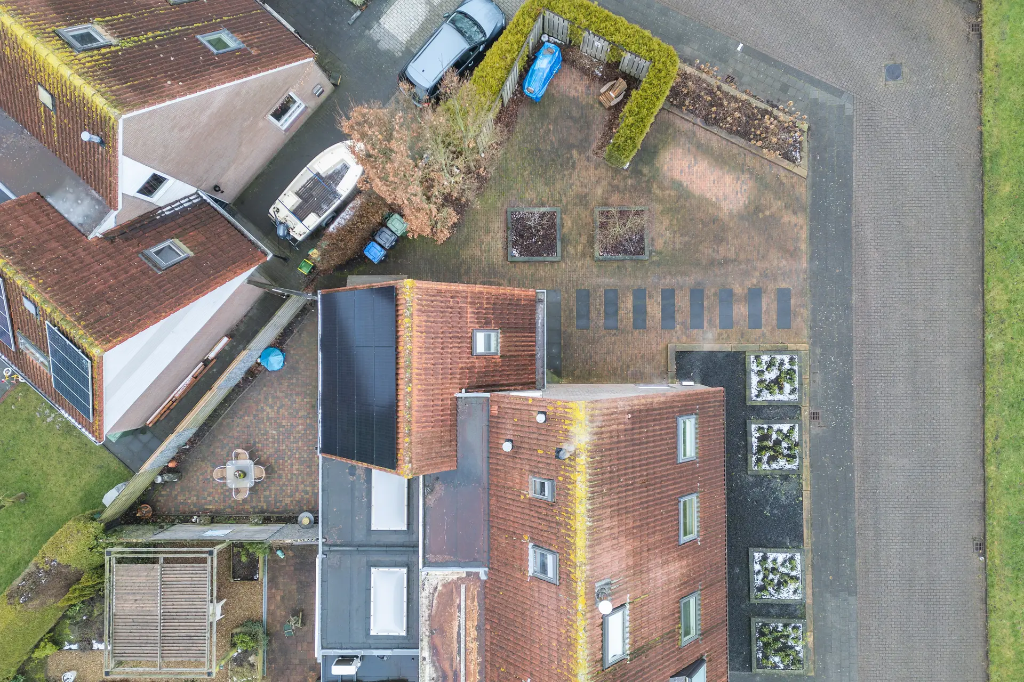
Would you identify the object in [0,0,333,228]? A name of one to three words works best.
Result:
house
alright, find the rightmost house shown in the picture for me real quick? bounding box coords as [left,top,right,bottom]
[478,380,732,682]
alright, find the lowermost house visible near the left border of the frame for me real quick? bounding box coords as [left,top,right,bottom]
[0,171,295,446]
